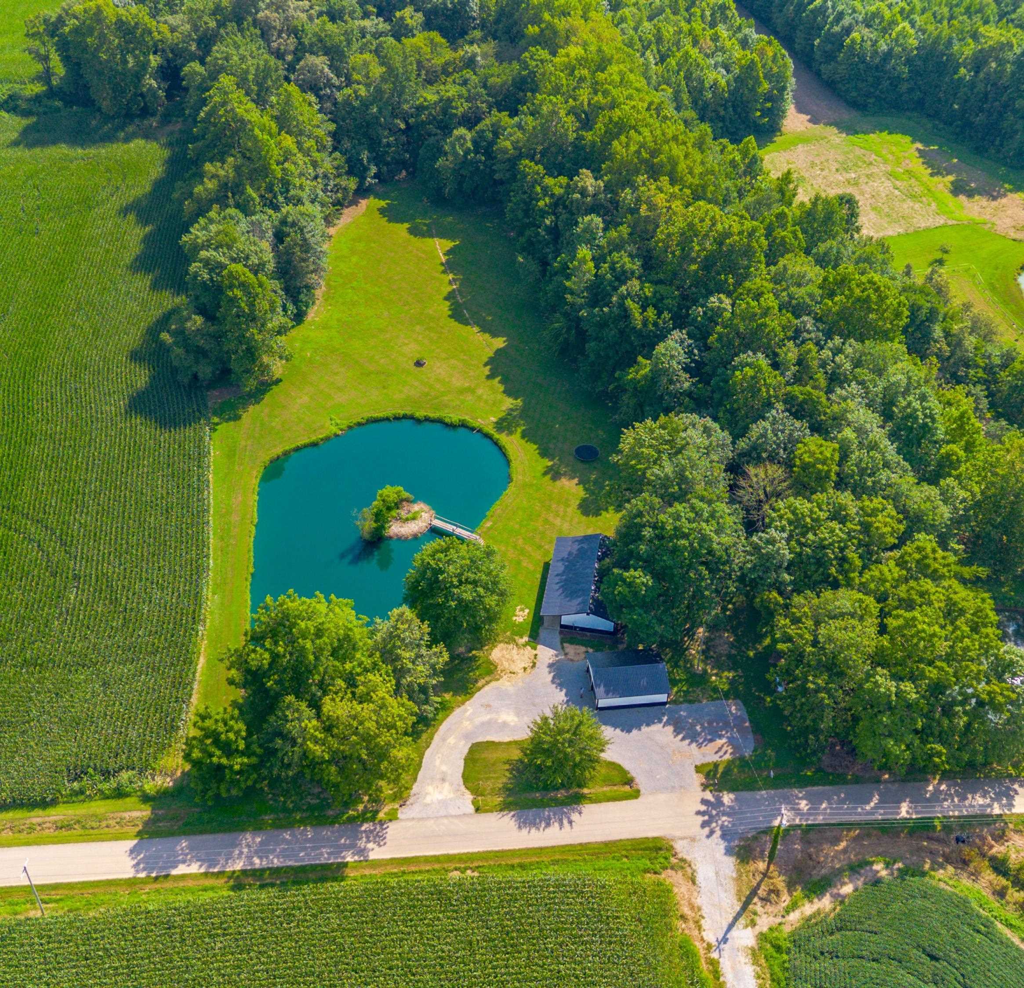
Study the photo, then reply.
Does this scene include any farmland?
Yes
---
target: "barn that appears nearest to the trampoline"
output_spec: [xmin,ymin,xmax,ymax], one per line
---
[539,531,625,636]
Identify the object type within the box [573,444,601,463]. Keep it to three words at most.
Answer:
trampoline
